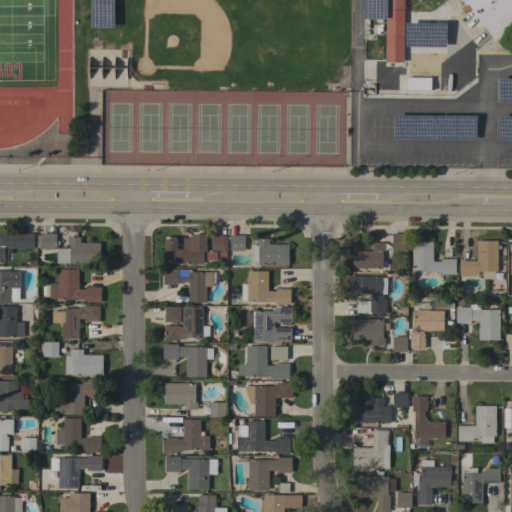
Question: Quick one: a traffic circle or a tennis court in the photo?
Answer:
tennis court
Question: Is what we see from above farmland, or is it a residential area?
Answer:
residential area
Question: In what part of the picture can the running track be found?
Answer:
top left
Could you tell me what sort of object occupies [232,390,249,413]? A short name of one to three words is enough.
swimming pool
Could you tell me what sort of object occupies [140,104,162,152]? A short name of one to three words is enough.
tennis court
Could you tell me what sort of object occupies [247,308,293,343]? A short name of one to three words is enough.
house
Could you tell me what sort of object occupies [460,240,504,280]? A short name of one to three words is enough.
house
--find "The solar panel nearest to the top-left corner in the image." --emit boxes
[90,0,114,27]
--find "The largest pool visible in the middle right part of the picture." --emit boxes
[388,276,406,304]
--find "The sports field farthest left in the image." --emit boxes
[0,0,57,86]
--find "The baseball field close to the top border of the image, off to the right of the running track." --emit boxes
[138,0,231,80]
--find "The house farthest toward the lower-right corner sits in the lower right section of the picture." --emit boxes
[464,468,502,504]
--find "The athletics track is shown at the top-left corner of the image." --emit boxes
[0,0,74,150]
